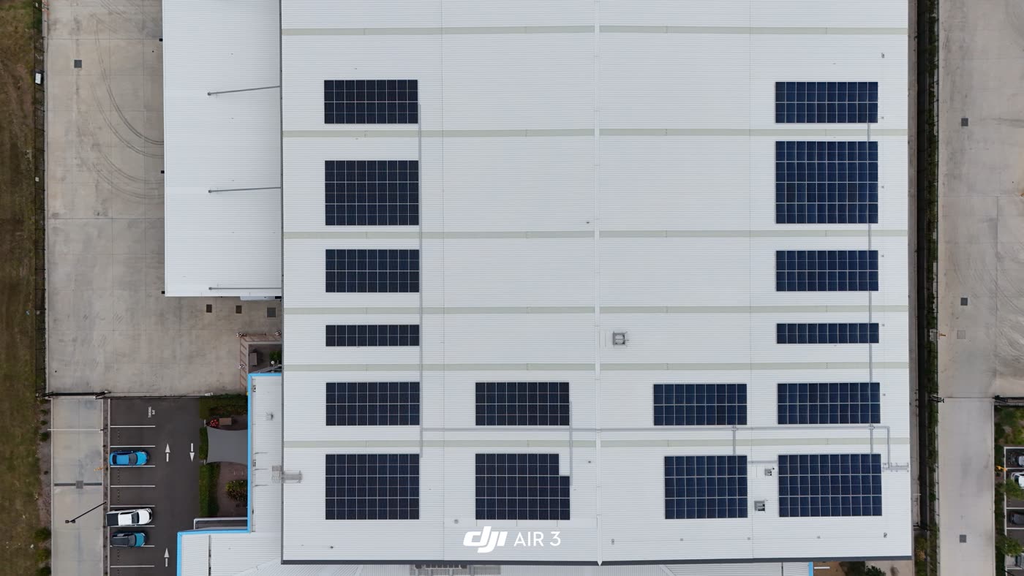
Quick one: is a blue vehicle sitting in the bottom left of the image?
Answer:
Yes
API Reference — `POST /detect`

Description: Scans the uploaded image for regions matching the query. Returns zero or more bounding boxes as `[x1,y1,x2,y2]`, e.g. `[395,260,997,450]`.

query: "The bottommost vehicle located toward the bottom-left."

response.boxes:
[109,531,146,551]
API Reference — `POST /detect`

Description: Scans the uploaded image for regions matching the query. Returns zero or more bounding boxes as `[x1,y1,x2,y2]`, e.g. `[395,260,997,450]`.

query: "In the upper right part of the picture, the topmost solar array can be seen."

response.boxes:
[775,82,878,123]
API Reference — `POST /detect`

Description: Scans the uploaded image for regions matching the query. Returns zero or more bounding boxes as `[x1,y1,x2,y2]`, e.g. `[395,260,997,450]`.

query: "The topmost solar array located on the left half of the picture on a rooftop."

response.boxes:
[324,78,419,124]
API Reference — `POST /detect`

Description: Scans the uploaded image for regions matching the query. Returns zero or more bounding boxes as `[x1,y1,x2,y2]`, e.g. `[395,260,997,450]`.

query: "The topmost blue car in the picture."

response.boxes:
[110,450,149,468]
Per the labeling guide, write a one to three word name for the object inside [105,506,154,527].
truck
